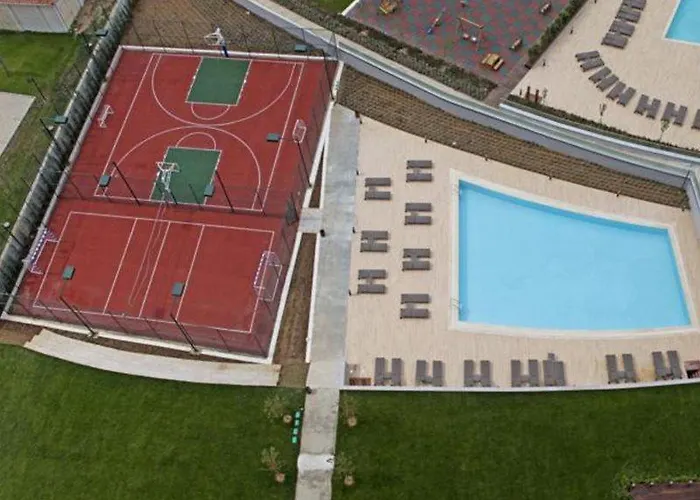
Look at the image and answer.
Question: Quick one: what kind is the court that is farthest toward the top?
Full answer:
The court that is farthest toward the top in the image is a basketball court.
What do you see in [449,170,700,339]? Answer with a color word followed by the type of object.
blue swimming pool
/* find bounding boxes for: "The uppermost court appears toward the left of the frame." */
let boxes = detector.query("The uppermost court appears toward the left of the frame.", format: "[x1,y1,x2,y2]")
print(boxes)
[58,51,335,220]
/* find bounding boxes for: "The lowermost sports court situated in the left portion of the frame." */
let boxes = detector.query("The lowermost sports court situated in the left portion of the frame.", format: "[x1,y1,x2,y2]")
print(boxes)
[8,198,296,352]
